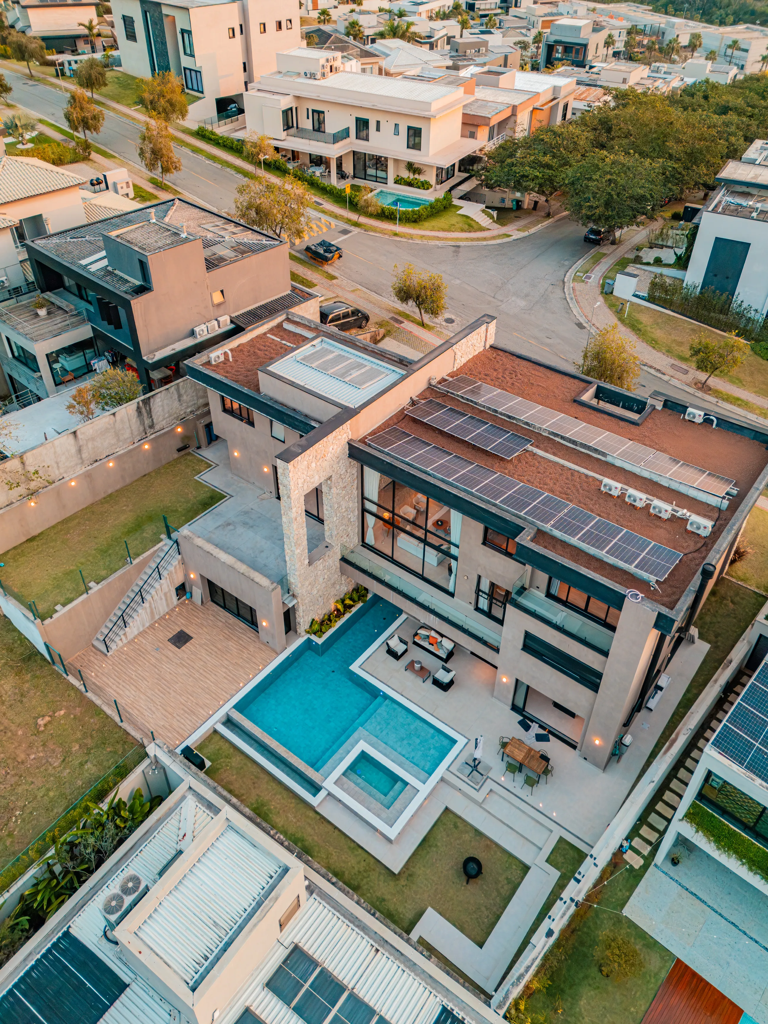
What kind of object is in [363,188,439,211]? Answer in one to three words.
swimming pool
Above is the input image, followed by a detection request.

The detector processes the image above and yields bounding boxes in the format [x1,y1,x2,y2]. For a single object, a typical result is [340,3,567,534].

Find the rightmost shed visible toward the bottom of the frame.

[728,615,768,688]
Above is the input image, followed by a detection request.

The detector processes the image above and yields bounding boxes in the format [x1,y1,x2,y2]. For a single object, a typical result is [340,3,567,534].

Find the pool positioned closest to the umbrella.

[176,589,472,848]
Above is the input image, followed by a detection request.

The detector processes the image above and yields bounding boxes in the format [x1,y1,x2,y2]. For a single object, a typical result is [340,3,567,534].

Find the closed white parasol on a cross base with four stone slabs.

[459,736,488,784]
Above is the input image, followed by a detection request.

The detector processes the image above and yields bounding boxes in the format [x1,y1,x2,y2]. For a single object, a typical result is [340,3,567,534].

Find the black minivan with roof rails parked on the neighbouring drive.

[319,295,378,328]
